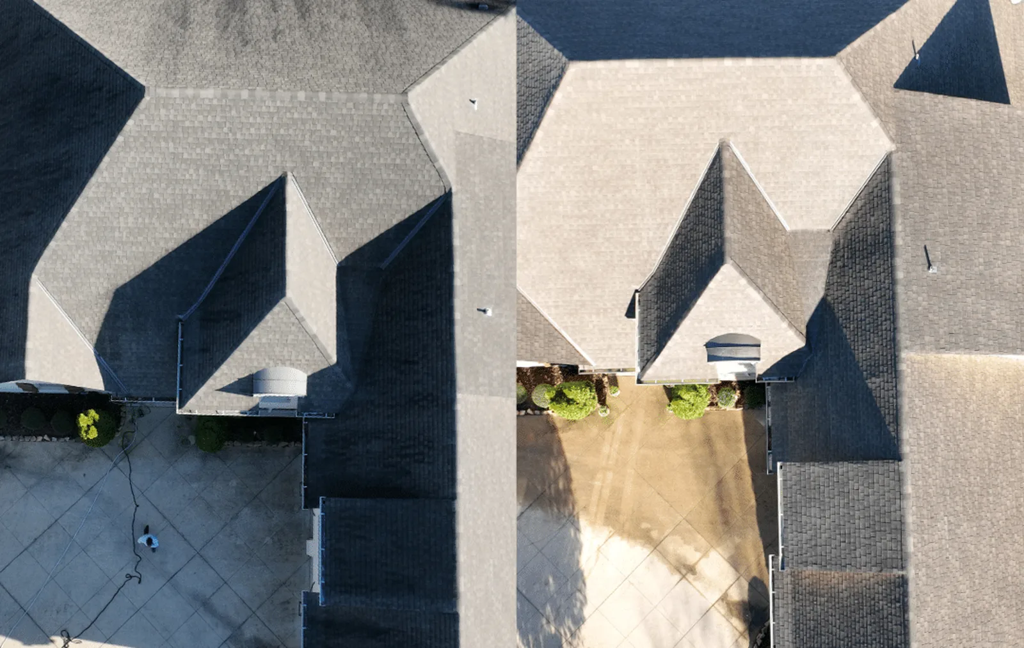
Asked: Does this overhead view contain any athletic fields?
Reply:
No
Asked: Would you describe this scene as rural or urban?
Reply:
urban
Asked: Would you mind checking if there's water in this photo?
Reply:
No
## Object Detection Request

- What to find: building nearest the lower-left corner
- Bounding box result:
[0,0,517,648]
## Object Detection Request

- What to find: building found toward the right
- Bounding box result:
[516,0,1024,648]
